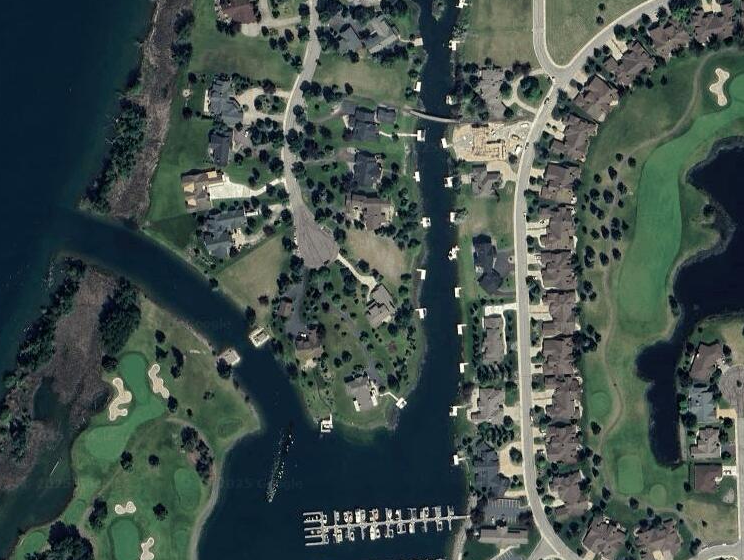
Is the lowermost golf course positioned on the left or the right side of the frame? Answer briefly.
left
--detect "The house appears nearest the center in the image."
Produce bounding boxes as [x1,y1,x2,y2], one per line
[364,282,399,325]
